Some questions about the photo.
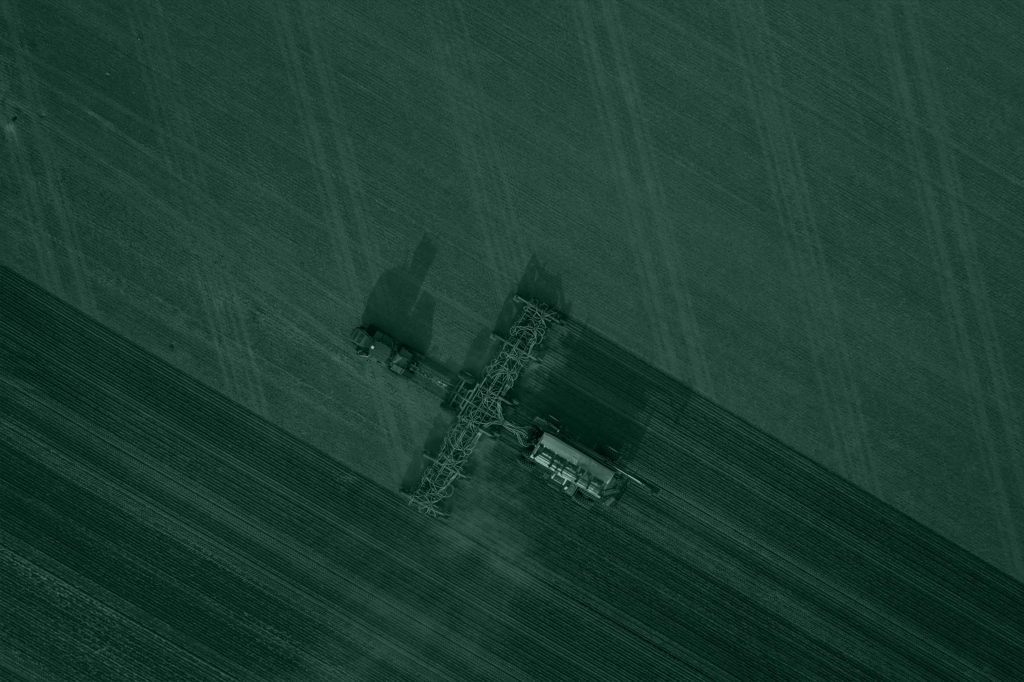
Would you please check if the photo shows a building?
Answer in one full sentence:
No, the photo shows no building.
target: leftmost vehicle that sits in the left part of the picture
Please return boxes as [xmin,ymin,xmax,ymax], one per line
[352,324,427,383]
